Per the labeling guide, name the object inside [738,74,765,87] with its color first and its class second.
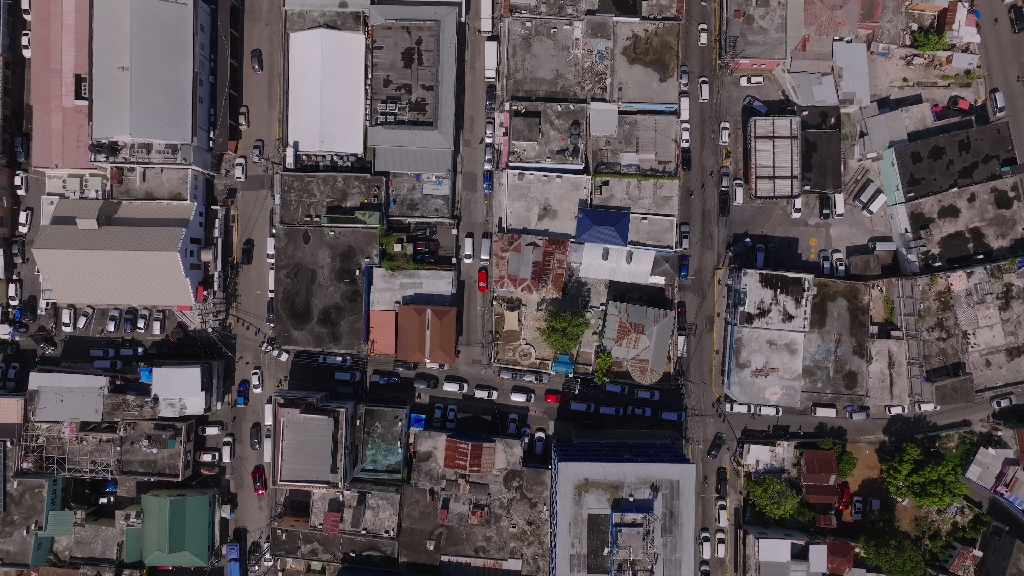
white vehicle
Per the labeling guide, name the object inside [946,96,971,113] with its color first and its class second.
red car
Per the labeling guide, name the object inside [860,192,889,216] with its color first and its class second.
white vehicle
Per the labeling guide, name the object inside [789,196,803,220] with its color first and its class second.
white car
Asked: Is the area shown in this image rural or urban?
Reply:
urban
